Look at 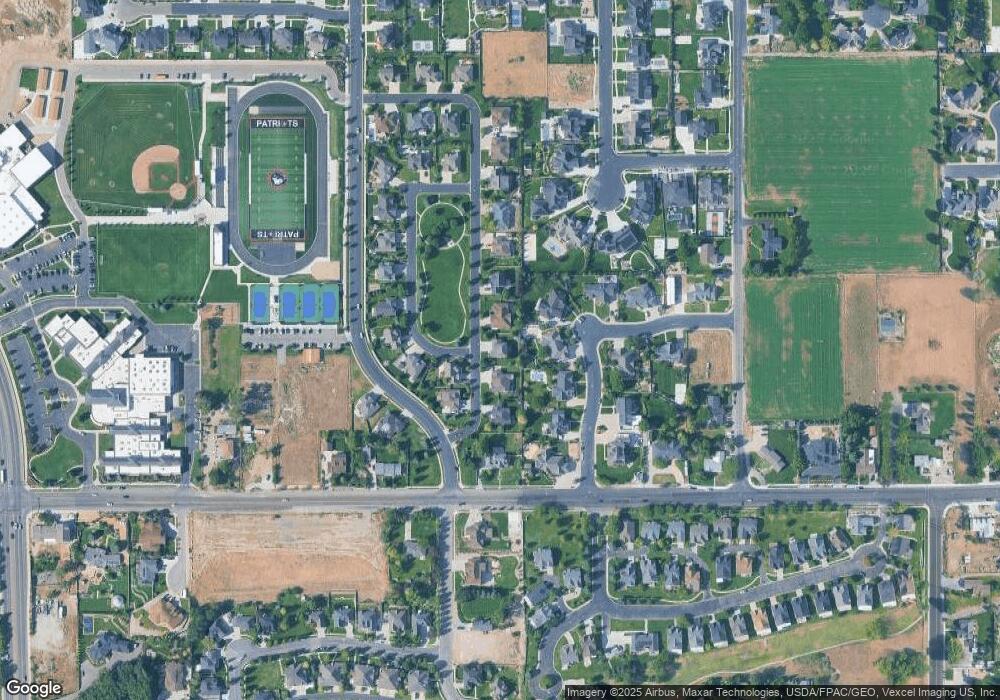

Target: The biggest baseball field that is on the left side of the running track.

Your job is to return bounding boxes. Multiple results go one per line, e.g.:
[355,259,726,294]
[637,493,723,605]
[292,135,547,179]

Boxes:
[76,83,198,206]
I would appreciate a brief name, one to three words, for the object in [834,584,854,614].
house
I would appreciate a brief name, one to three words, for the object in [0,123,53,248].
building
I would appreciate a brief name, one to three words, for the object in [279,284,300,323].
tennis court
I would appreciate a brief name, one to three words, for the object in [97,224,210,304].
soccer field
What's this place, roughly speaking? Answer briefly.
residential area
